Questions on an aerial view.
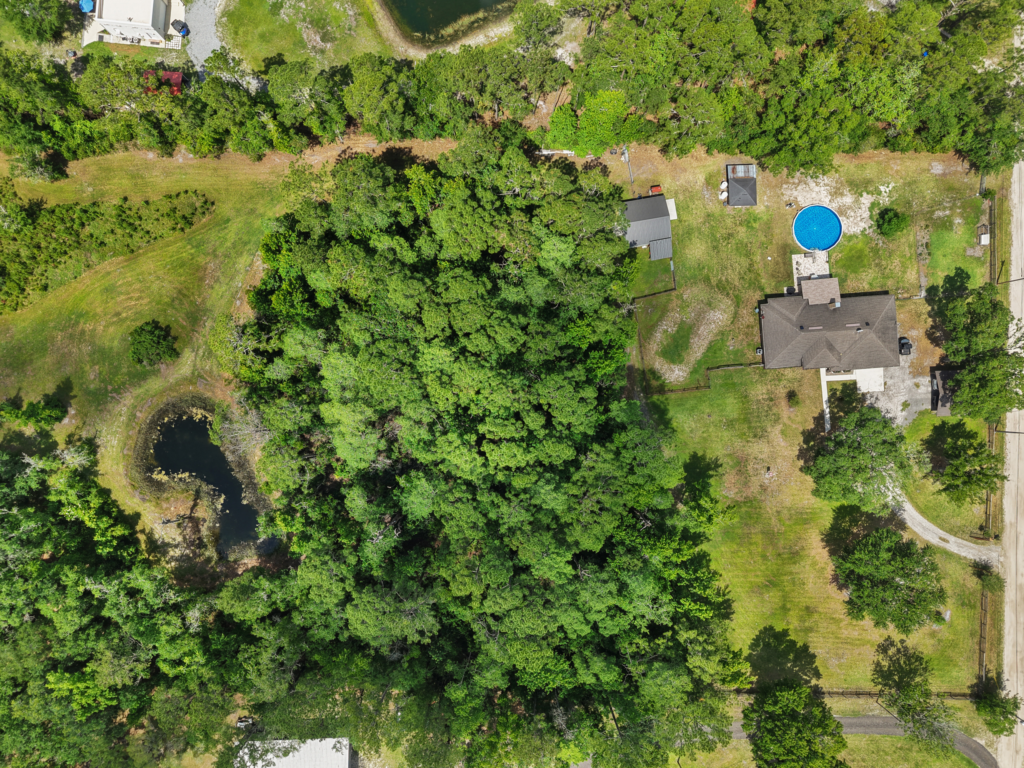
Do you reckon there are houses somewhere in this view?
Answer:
Yes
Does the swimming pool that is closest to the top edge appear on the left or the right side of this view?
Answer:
right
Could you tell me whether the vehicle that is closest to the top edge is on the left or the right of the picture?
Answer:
left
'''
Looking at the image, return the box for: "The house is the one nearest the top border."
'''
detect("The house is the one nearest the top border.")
[95,0,167,48]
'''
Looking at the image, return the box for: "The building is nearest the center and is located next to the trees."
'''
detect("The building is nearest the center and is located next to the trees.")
[605,195,673,261]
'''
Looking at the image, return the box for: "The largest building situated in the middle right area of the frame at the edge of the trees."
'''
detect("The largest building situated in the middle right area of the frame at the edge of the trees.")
[759,278,900,371]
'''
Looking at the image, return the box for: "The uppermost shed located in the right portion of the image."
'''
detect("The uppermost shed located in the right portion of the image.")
[725,165,757,208]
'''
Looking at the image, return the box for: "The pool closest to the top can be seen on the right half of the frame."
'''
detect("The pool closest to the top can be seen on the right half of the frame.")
[790,203,843,255]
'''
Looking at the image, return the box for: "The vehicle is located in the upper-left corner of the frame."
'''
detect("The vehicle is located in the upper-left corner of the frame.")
[169,17,193,41]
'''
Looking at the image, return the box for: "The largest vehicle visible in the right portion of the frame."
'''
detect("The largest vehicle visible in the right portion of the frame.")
[898,336,915,357]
